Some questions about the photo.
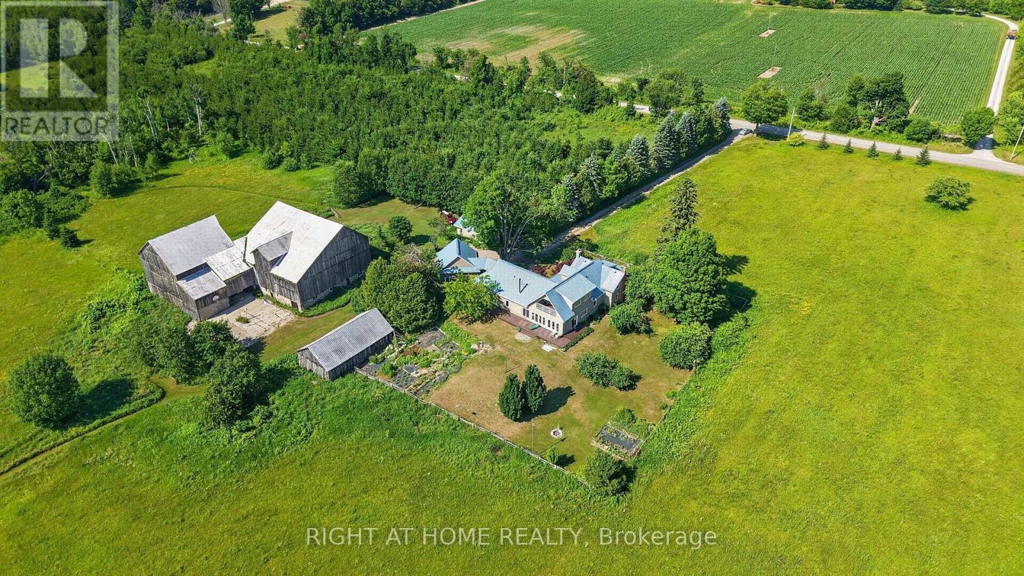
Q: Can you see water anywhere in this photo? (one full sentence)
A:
No, the picture contains no water.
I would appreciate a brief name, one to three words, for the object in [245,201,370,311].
barn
